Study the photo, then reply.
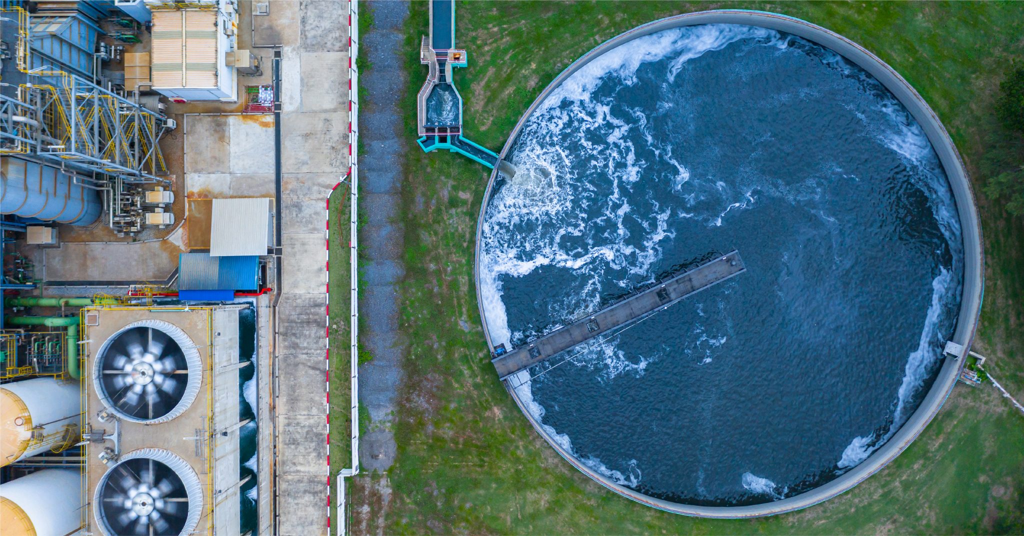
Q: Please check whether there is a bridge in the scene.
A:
Yes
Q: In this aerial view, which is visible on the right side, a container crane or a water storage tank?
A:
water storage tank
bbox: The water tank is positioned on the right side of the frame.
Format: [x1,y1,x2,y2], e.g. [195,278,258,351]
[475,10,984,519]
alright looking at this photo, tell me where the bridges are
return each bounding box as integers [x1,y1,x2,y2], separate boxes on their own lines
[491,245,748,381]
